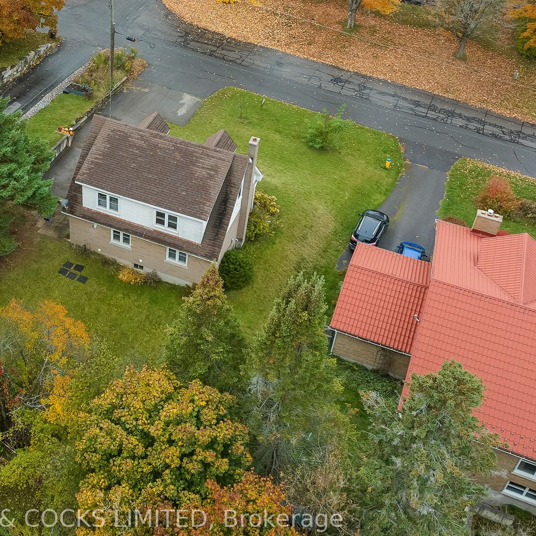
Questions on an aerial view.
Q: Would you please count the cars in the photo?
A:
two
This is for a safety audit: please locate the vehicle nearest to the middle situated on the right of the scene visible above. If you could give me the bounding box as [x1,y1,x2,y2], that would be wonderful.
[340,207,387,257]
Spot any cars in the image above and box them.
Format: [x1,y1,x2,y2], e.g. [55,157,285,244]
[395,236,430,256]
[340,207,387,257]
